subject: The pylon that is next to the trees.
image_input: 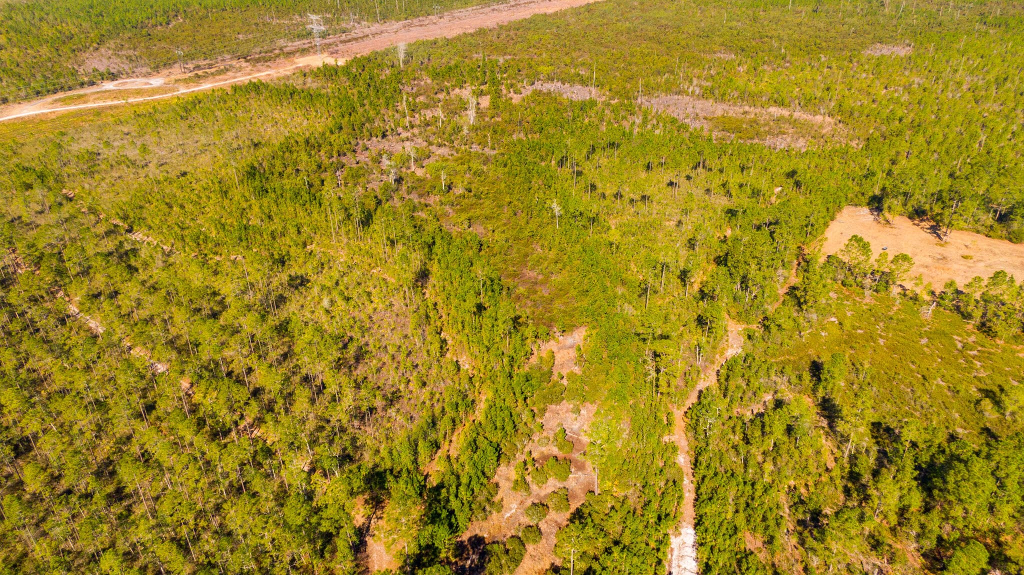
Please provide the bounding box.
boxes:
[306,15,324,59]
